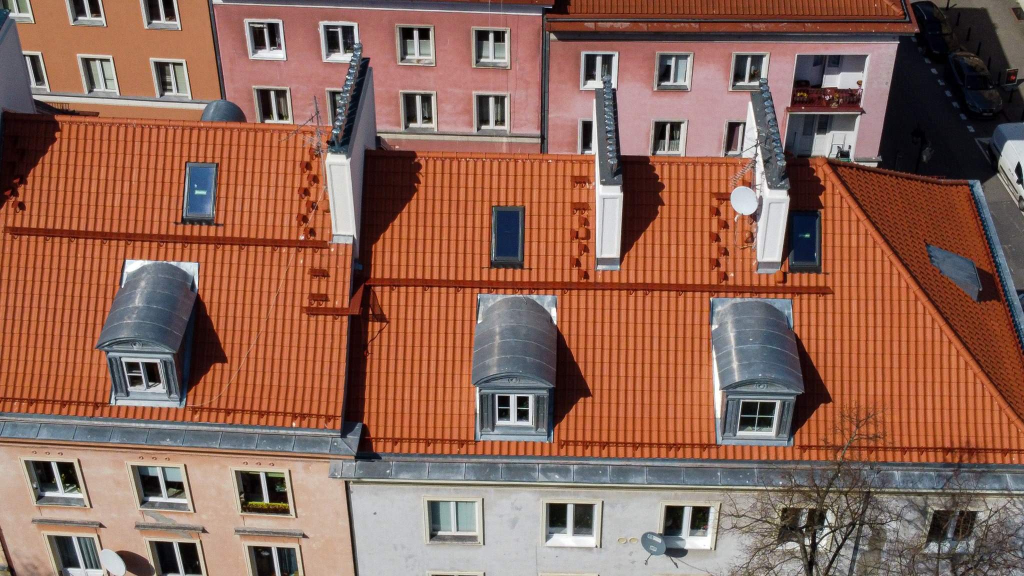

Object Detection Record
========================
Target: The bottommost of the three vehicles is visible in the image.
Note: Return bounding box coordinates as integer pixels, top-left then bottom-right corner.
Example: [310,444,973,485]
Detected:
[990,120,1024,203]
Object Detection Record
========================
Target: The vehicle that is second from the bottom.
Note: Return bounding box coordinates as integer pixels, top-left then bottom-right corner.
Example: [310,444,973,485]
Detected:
[945,52,1007,119]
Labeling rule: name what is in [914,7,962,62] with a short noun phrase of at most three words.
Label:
car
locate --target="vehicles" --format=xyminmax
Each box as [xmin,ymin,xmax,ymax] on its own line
[914,7,962,62]
[945,52,1007,119]
[990,120,1024,203]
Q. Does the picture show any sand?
No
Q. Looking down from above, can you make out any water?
No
